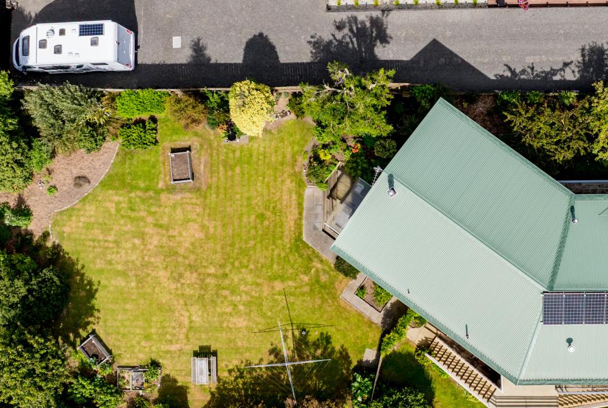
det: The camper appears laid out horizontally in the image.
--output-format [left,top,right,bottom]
[13,18,141,70]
